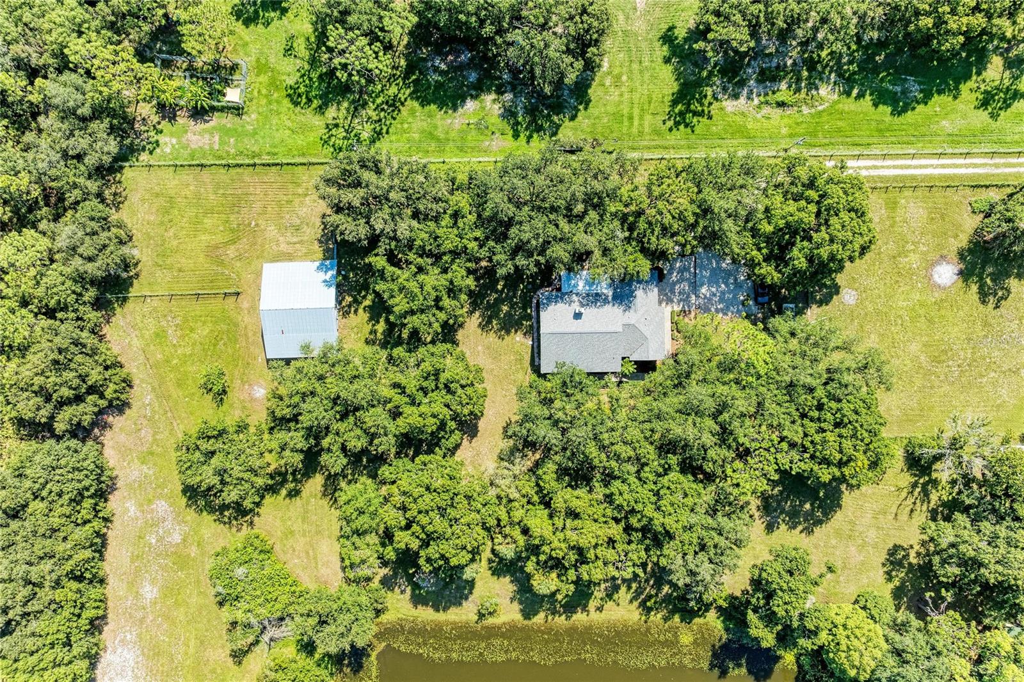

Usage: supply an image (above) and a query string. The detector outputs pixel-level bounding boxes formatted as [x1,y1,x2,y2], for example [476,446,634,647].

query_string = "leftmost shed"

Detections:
[260,260,339,360]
